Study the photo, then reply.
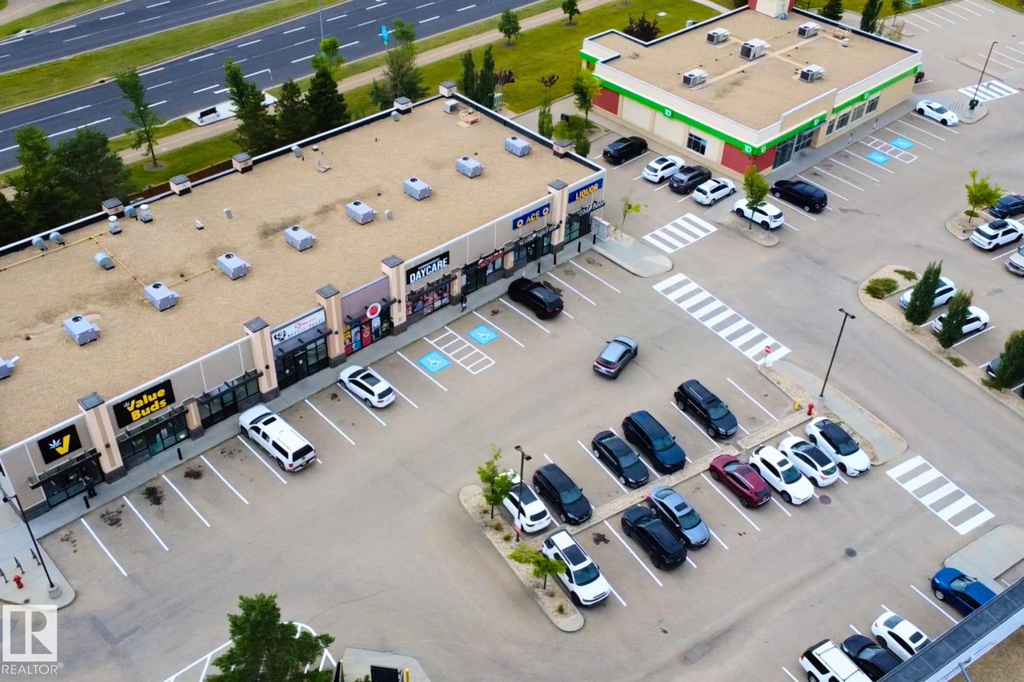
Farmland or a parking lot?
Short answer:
parking lot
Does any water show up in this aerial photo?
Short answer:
No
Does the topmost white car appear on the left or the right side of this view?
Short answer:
right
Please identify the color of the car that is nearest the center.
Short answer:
black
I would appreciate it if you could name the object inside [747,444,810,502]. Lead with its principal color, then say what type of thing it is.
white car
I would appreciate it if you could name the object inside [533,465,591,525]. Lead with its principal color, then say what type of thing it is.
black car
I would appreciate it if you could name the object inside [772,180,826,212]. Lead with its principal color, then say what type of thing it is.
black car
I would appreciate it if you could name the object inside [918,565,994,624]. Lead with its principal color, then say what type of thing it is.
blue car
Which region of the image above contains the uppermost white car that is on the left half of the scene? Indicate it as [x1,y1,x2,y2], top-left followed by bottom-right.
[339,364,396,409]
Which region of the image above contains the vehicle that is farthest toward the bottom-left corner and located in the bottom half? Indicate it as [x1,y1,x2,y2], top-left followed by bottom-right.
[241,410,313,473]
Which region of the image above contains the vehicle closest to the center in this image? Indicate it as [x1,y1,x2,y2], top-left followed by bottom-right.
[510,280,562,318]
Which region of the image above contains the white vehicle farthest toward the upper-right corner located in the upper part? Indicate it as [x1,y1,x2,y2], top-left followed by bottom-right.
[917,101,959,124]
